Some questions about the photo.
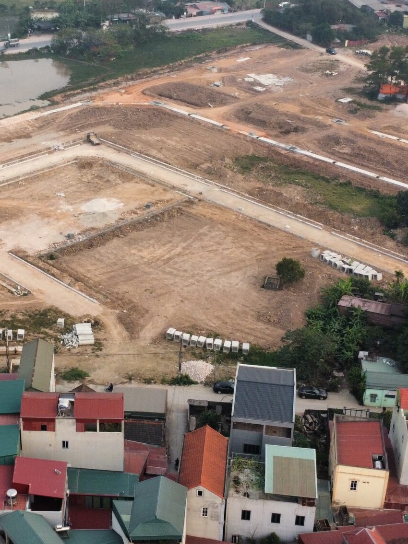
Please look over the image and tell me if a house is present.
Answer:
Yes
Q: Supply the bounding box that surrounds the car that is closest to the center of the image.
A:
[209,381,234,394]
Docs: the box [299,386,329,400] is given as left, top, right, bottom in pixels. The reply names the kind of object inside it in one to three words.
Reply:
car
